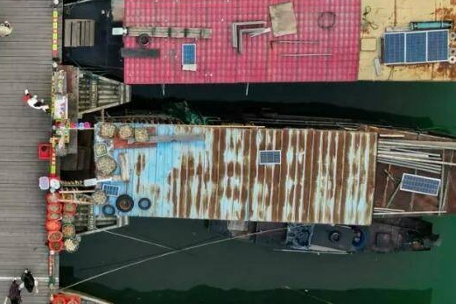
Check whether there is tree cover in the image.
No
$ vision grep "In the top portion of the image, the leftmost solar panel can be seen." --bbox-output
[181,43,196,66]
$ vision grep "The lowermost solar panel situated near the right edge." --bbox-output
[399,172,442,196]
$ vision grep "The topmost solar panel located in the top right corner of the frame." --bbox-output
[382,28,450,66]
